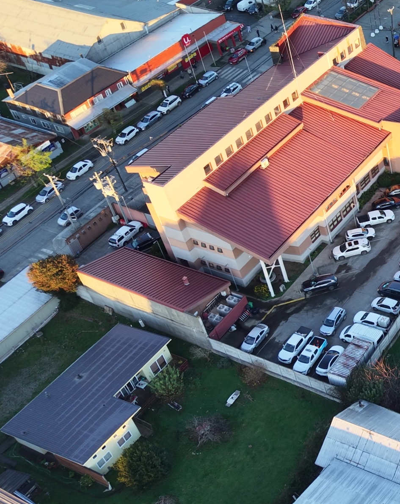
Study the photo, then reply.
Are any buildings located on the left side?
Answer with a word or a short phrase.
Yes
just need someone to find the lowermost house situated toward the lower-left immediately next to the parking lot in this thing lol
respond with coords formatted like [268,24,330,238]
[0,314,192,478]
